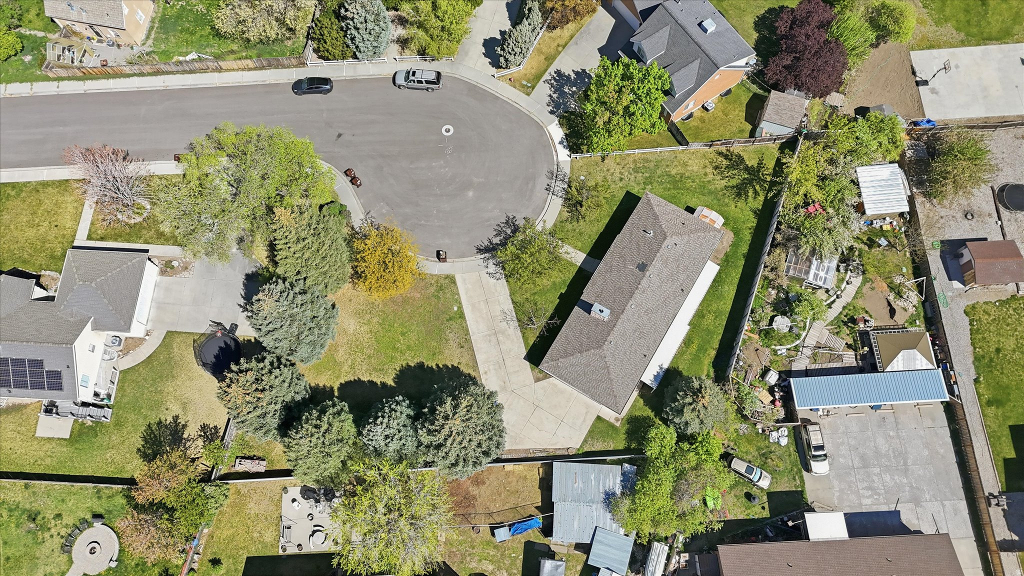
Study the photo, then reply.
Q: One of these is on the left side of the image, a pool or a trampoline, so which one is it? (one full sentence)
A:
It is a trampoline that can be seen on the left side of the image.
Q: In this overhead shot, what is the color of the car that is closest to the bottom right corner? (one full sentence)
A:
The color of the car that is closest to the bottom right corner is white.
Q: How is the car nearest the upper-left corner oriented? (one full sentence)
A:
The car nearest the upper-left corner is laid out from left to right.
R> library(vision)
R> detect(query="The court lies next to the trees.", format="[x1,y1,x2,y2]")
[910,43,1024,120]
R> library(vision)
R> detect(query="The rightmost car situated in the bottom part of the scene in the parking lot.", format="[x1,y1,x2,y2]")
[800,423,831,476]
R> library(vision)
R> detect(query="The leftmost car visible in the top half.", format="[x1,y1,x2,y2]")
[289,73,332,94]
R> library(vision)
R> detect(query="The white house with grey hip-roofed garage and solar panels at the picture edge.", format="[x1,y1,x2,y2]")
[0,246,157,400]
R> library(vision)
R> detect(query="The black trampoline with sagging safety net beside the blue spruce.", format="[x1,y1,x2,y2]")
[191,327,248,380]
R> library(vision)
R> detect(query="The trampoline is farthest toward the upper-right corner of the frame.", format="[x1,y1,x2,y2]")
[999,176,1024,219]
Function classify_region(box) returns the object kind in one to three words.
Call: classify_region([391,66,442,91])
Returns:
car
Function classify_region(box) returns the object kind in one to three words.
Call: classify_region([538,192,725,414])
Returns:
house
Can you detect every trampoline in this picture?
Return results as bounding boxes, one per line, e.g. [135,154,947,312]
[999,176,1024,219]
[191,327,248,380]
